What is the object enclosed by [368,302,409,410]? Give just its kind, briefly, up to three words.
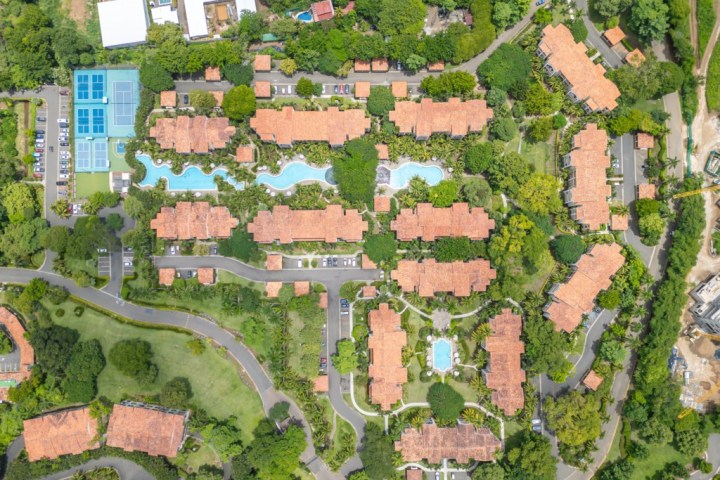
building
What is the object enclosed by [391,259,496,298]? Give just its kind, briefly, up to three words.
building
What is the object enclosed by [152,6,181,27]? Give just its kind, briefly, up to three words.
house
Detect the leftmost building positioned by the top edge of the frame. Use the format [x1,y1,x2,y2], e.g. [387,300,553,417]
[97,0,150,50]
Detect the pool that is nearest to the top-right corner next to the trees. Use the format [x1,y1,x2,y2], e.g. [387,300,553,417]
[377,162,444,190]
